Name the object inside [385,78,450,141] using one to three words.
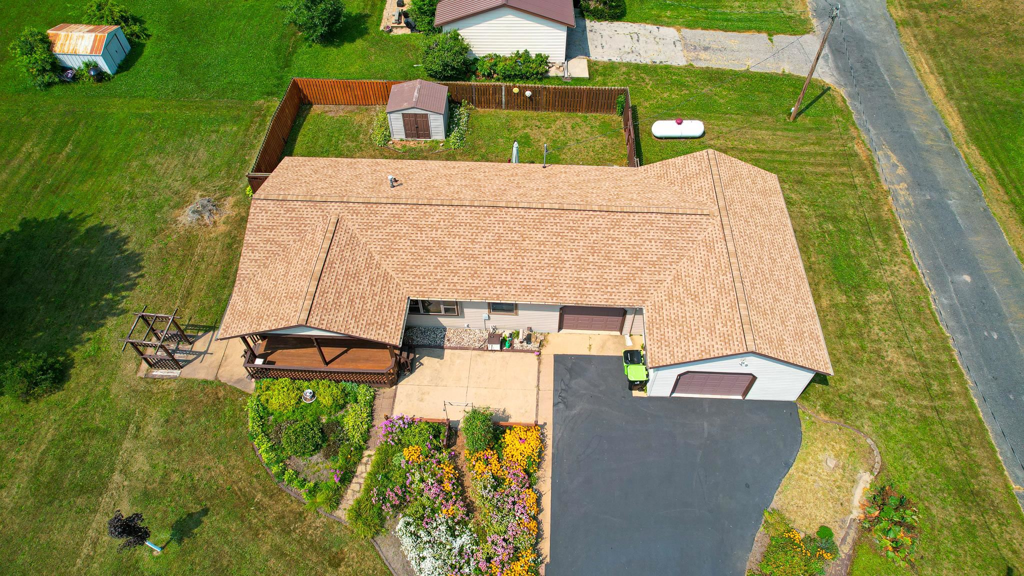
shed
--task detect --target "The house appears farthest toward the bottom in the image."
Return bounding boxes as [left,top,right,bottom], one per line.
[215,146,834,402]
